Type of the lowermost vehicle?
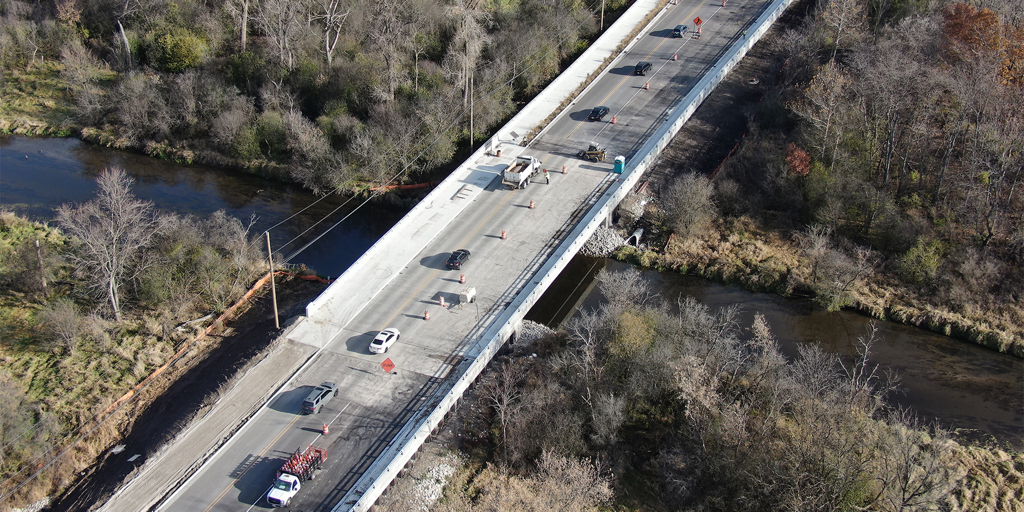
truck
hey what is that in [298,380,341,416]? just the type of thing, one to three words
car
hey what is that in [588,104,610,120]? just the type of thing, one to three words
car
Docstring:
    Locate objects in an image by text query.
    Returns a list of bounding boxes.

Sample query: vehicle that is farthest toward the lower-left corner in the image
[263,442,327,511]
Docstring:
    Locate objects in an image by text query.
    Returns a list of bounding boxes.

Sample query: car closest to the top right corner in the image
[671,22,690,38]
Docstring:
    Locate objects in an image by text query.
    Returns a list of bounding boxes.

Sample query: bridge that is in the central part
[285,0,791,512]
